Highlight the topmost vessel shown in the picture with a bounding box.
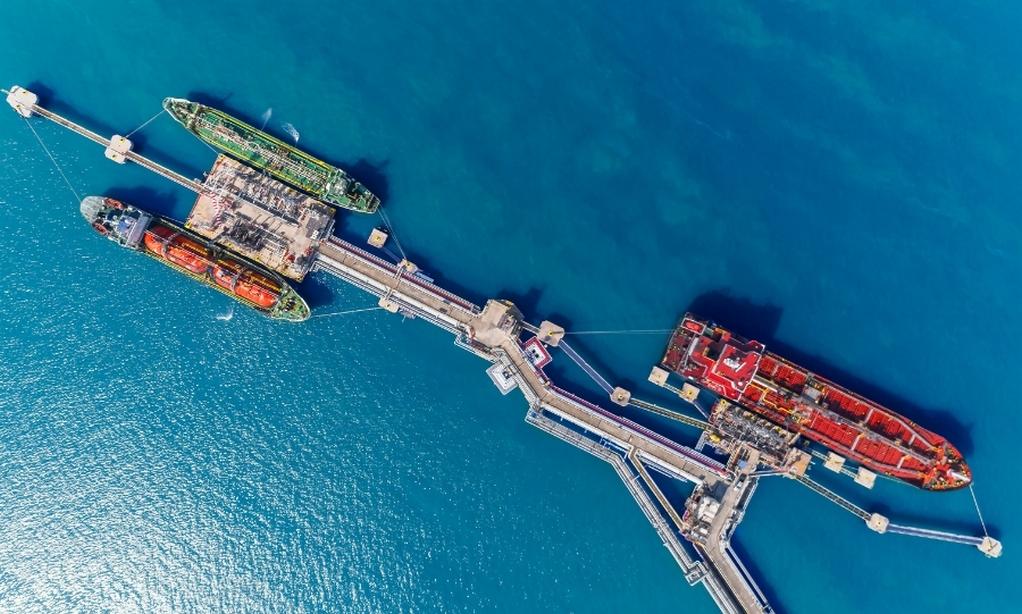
[160,97,381,215]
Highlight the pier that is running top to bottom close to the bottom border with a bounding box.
[710,448,773,614]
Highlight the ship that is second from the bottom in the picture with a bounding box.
[79,195,313,320]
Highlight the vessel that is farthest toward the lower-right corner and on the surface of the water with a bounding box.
[661,313,975,488]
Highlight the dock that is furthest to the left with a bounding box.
[187,154,335,282]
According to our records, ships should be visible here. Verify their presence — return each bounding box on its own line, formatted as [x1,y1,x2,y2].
[79,195,313,320]
[160,97,381,215]
[661,313,975,488]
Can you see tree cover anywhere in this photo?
No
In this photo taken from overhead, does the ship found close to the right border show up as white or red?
red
